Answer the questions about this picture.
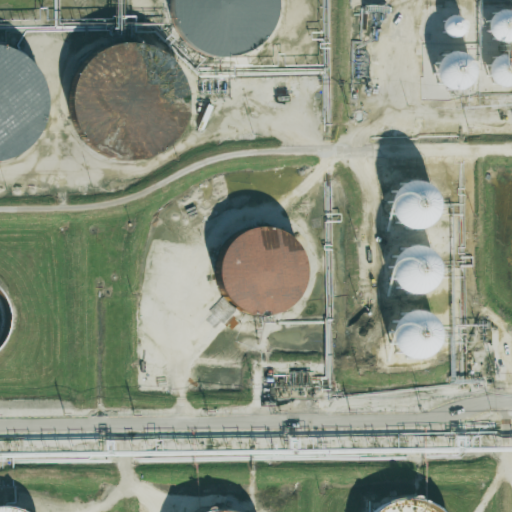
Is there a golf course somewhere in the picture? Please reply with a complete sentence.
No, no golf course can be seen from above.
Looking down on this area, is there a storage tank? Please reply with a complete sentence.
Yes, this view includes a storage tank.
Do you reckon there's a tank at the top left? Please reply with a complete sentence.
Yes, there is a tank at the top left.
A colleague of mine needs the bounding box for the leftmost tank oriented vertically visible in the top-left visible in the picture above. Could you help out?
[0,44,46,158]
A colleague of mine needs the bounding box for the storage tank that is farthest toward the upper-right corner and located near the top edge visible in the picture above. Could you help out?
[484,10,512,46]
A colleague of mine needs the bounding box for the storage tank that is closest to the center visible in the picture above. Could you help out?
[216,226,310,318]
